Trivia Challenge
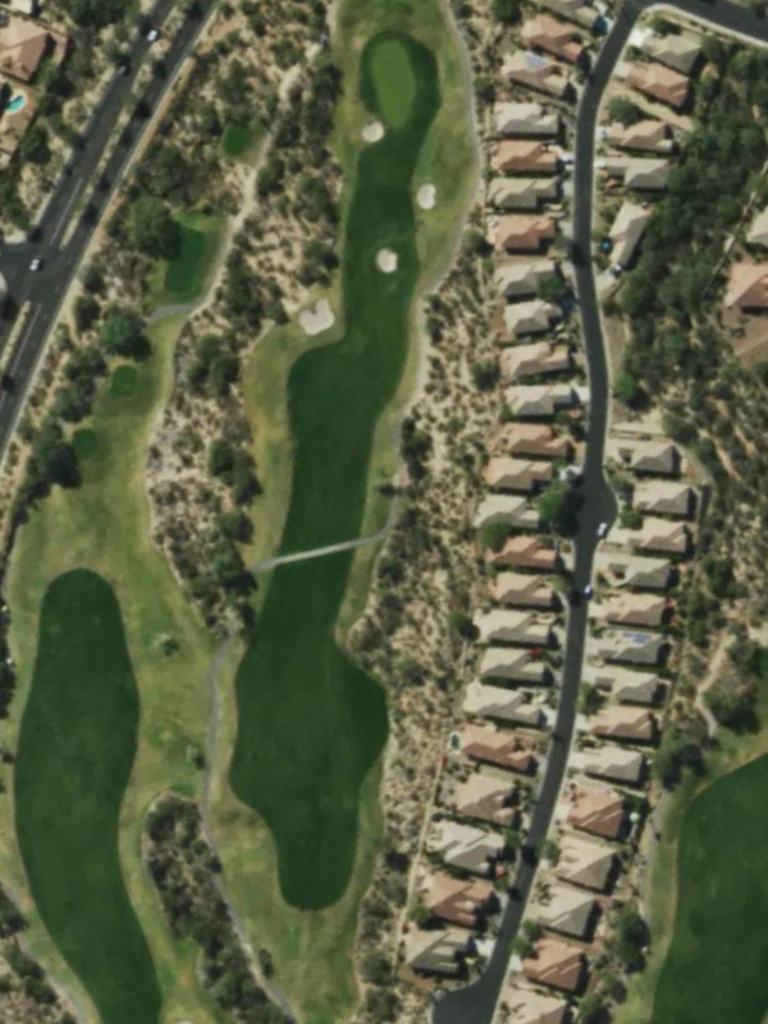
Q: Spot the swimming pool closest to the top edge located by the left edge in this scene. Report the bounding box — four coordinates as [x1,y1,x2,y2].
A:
[6,92,27,113]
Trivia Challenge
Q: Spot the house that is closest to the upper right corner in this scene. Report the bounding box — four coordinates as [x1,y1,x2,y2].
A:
[648,28,705,78]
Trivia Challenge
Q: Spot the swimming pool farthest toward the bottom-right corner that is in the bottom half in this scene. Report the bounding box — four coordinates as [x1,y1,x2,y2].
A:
[449,732,461,753]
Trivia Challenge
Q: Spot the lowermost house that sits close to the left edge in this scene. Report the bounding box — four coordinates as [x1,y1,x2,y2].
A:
[0,16,49,80]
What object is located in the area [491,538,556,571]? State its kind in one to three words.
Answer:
house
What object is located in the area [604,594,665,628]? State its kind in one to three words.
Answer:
house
